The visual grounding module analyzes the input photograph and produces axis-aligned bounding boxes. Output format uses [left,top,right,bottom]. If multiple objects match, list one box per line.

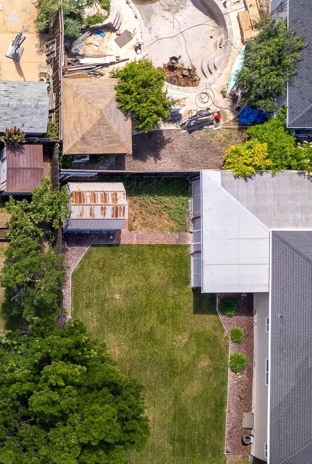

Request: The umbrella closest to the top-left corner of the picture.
[6,36,26,60]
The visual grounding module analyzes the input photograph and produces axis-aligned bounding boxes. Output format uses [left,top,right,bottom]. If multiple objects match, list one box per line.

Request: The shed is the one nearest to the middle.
[61,183,127,231]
